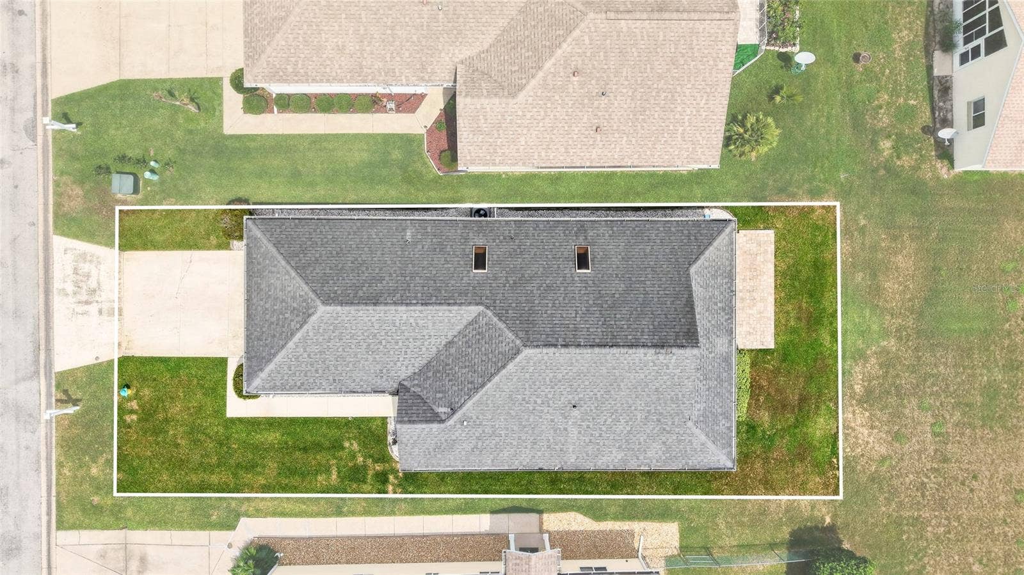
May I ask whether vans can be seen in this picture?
No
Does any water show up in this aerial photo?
No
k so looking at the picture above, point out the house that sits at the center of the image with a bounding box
[245,218,735,471]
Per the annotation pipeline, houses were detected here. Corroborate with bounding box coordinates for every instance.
[954,0,1024,170]
[267,533,661,575]
[243,0,737,171]
[245,218,735,471]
